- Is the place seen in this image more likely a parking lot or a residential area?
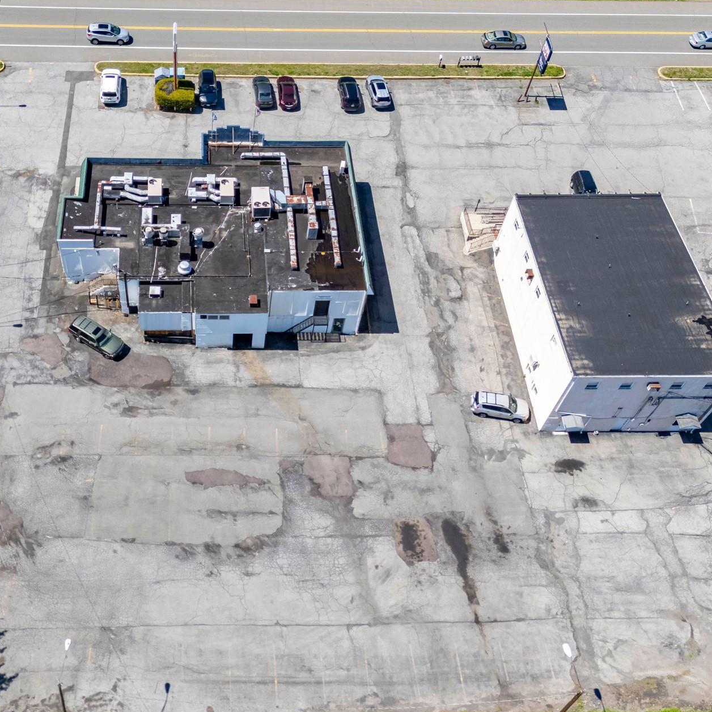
parking lot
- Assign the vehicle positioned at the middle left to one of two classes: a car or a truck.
car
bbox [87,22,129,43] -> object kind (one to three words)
car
